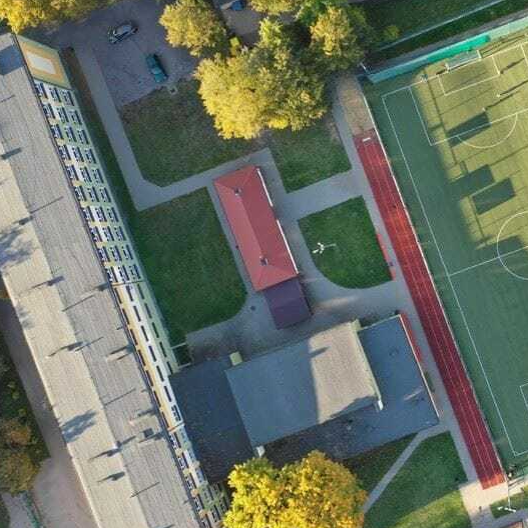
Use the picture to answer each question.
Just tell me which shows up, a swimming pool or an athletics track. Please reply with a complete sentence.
There is an athletics track in the scene.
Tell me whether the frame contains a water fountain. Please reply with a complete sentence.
No, there isn't any water fountain down there.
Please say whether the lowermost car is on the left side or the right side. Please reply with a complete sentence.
The lowermost car is on the left side of the image.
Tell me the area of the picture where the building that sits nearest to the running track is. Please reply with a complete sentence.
The building that sits nearest to the running track appears toward the bottom of the photo.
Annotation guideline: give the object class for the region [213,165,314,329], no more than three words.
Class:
house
